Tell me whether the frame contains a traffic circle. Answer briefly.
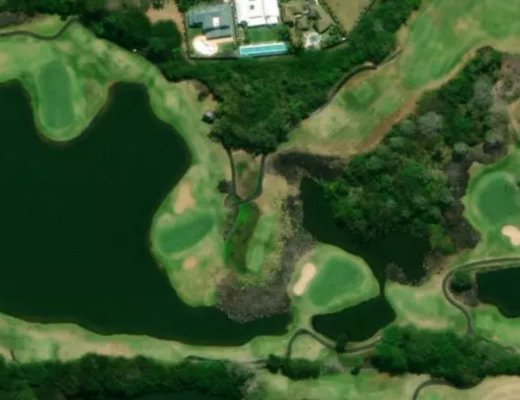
No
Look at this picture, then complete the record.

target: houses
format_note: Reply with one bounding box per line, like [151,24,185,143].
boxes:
[236,0,280,28]
[186,3,235,39]
[282,0,336,31]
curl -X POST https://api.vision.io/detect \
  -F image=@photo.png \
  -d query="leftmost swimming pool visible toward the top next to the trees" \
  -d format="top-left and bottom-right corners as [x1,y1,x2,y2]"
[239,42,286,56]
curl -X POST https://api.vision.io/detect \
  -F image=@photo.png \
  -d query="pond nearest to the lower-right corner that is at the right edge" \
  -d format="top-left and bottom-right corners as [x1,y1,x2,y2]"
[475,266,520,318]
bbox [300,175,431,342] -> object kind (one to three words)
pond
